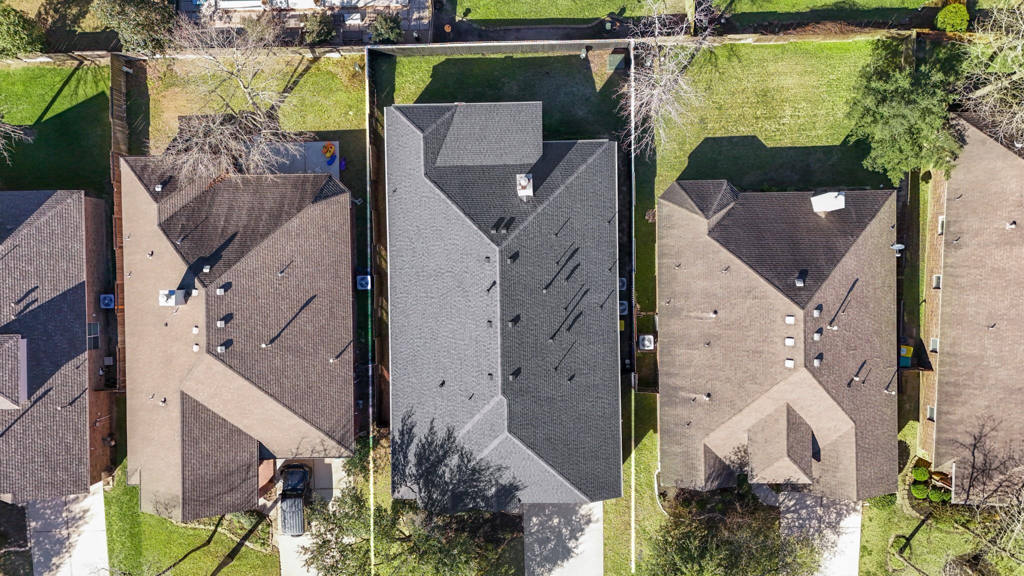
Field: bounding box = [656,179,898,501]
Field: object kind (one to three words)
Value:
house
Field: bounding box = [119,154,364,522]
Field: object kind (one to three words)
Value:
house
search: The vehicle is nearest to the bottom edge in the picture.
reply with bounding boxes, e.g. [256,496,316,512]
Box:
[278,463,315,537]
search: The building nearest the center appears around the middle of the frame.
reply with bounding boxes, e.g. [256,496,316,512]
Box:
[382,100,625,515]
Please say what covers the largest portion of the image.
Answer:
buildings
